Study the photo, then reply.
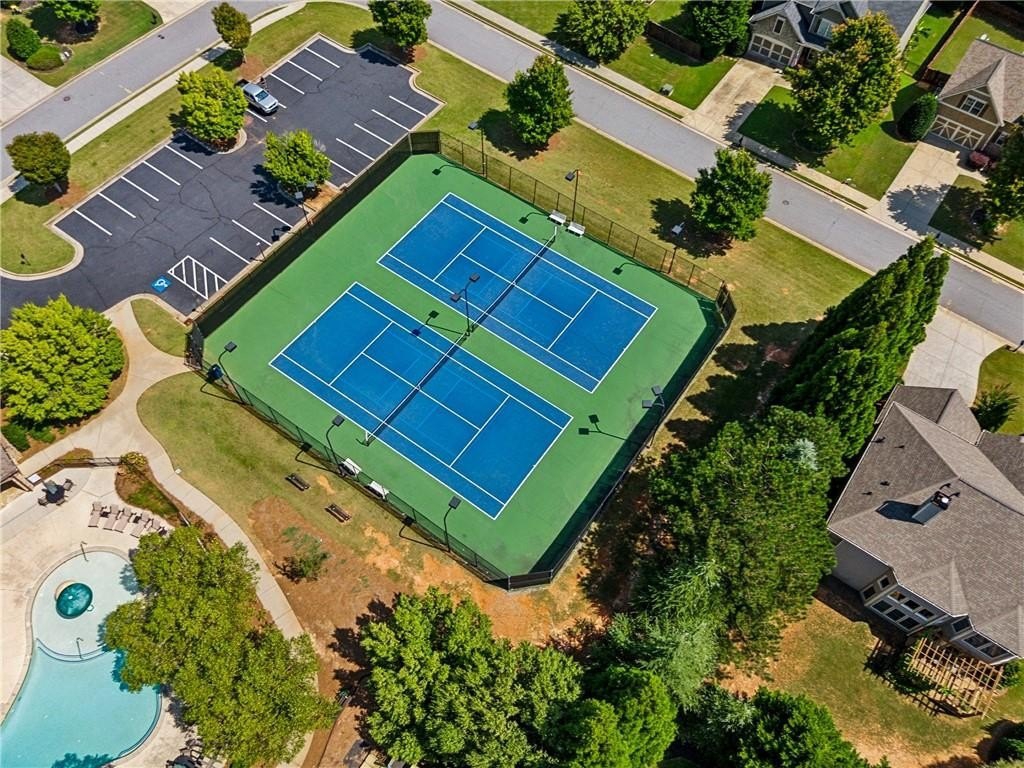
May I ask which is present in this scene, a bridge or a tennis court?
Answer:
tennis court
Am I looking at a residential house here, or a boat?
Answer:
residential house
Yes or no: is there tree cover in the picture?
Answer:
Yes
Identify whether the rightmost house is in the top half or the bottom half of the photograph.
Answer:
top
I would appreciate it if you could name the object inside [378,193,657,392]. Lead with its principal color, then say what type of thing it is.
blue tennis court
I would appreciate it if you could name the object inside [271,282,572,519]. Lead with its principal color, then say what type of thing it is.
blue tennis court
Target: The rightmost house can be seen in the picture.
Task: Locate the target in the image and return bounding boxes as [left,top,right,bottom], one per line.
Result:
[931,36,1024,155]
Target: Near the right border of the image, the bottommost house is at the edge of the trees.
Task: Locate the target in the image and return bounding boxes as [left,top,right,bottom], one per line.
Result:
[814,382,1024,686]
